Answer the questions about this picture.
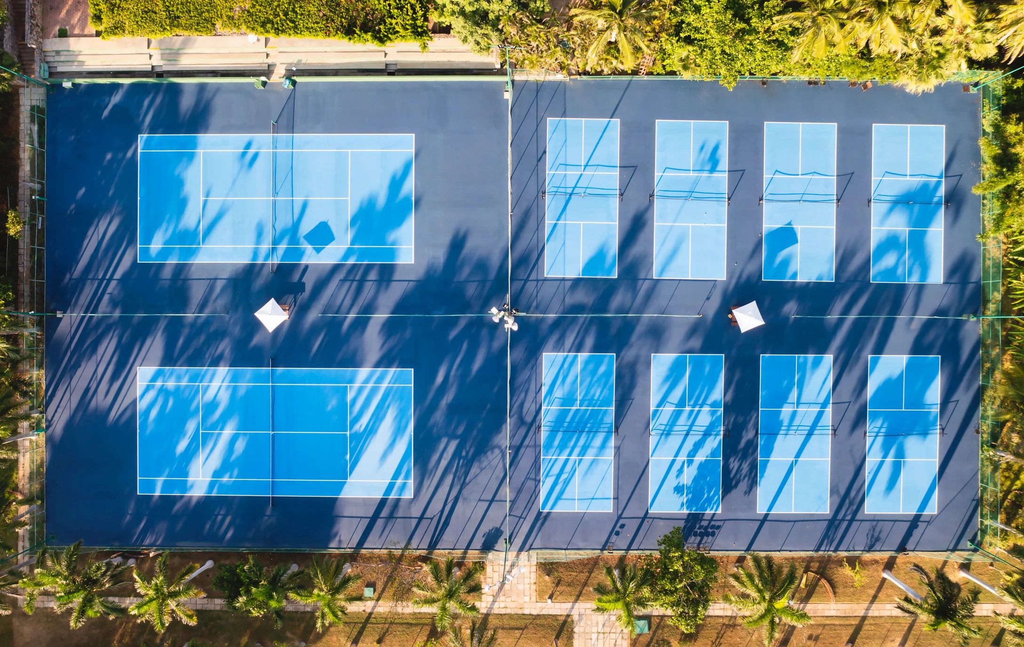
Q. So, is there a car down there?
No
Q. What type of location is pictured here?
sports ground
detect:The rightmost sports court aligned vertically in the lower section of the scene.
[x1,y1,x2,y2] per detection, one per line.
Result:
[865,355,941,514]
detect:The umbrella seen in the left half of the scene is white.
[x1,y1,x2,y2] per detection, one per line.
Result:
[255,298,288,332]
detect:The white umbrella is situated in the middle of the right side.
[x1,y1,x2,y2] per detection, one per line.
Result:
[732,301,765,333]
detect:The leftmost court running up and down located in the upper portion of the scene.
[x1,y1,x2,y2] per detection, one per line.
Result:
[544,117,620,278]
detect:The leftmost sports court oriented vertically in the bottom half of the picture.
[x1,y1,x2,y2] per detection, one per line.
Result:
[540,353,616,513]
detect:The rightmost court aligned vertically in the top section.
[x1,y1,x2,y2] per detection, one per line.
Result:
[870,123,946,284]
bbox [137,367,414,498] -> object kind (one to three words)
tennis court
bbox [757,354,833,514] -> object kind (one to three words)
sports court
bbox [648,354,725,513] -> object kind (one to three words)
sports court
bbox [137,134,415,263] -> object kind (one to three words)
tennis court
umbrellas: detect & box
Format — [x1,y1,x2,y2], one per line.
[255,298,288,332]
[732,301,765,333]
